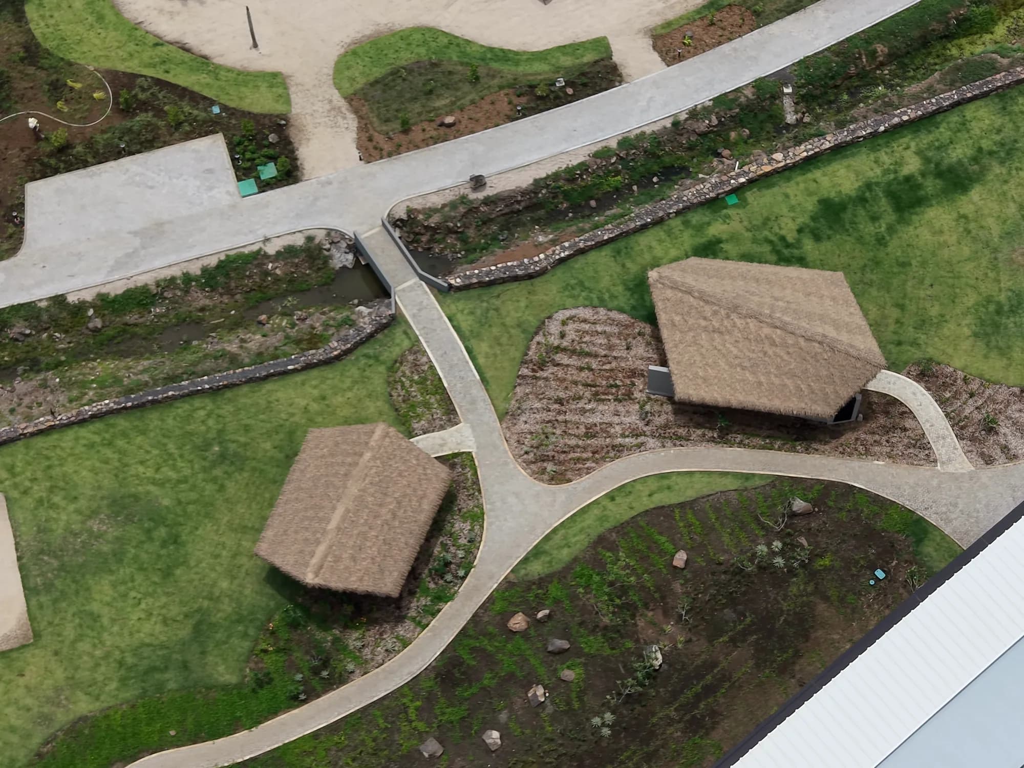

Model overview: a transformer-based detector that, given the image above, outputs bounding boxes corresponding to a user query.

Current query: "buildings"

[713,500,1024,768]
[646,257,888,424]
[256,420,452,597]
